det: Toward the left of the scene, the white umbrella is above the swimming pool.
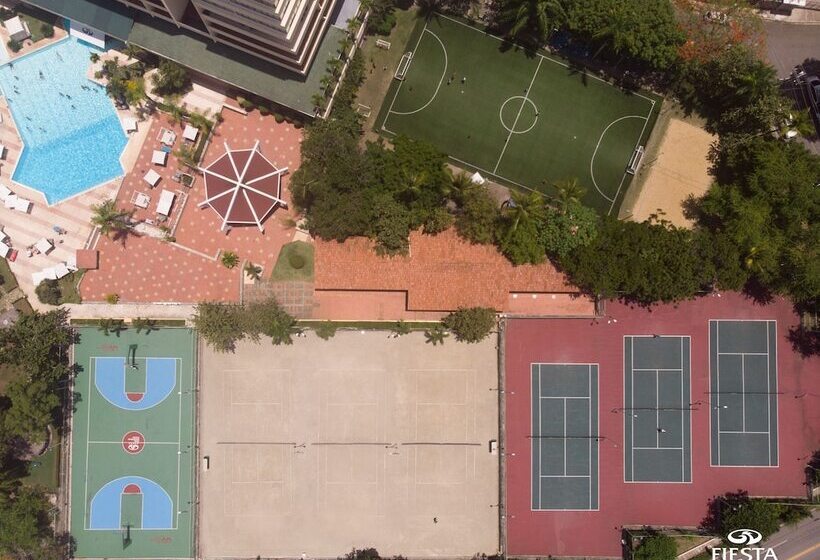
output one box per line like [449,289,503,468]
[5,18,26,35]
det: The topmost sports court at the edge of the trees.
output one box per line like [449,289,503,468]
[623,116,719,229]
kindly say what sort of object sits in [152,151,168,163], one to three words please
umbrella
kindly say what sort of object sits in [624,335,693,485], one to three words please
tennis court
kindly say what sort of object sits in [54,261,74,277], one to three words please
umbrella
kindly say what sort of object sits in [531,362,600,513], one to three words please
tennis court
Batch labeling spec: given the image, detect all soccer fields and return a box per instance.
[369,9,666,224]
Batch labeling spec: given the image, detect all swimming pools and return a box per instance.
[0,34,130,208]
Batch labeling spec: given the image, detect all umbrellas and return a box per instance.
[35,235,57,254]
[15,199,36,214]
[0,183,17,199]
[0,241,17,257]
[6,195,19,207]
[65,254,76,269]
[54,261,74,277]
[42,266,58,280]
[152,151,168,163]
[5,18,26,35]
[182,124,199,139]
[123,117,139,129]
[33,272,46,285]
[143,170,161,187]
[157,189,176,214]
